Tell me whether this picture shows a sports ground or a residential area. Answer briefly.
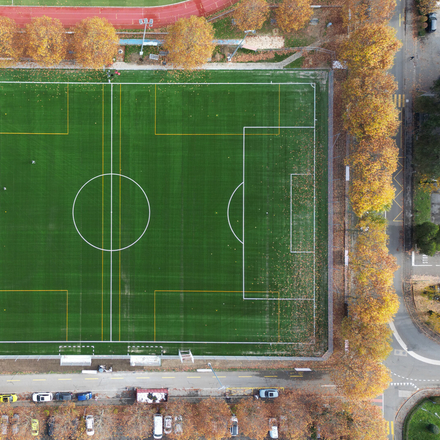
sports ground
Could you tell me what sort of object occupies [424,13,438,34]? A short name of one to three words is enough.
vehicle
